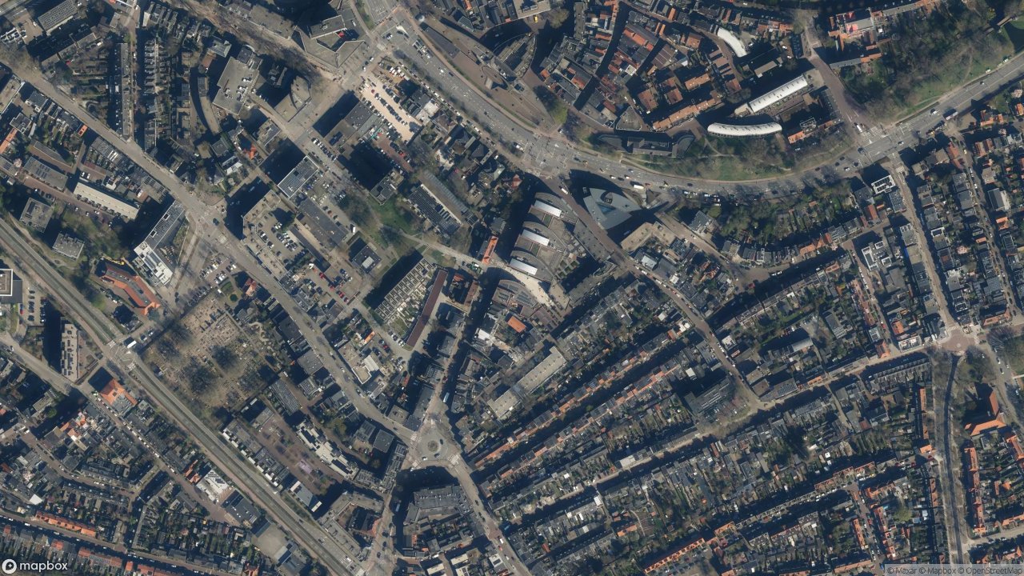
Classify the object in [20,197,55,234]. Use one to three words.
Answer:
building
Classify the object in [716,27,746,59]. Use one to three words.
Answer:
building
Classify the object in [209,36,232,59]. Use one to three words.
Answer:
house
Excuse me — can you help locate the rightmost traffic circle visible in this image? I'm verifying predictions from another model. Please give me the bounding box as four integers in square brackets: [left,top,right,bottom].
[939,322,978,361]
